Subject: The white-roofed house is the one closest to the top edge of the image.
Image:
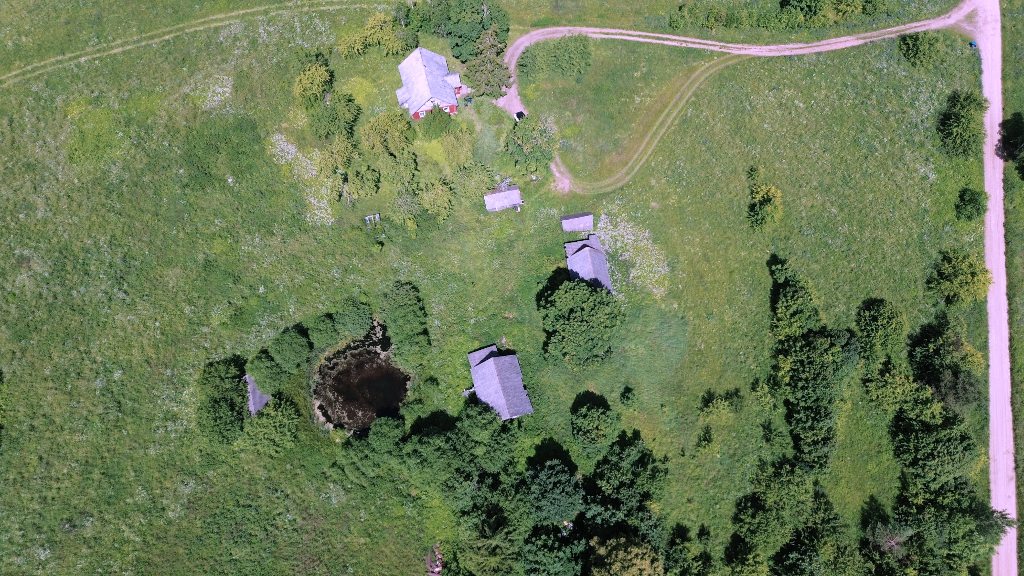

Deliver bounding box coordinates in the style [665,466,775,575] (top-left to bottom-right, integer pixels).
[396,47,462,121]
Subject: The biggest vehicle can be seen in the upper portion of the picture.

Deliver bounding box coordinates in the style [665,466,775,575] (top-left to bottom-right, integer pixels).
[515,107,529,122]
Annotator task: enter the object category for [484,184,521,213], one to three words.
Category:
shed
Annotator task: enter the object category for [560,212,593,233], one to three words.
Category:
shed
